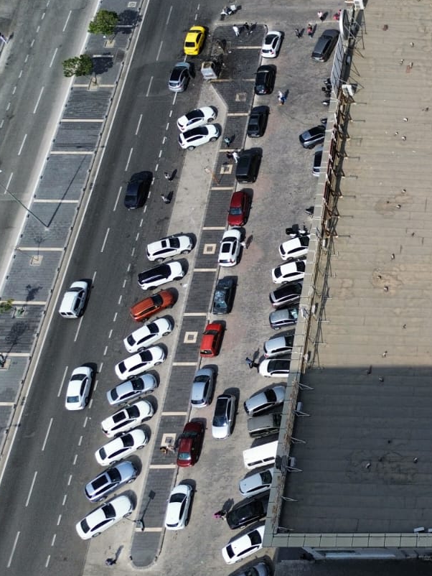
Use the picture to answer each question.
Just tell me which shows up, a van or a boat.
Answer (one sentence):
This aerial view contains a van.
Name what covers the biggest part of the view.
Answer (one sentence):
What you mostly see from above here is paved ground.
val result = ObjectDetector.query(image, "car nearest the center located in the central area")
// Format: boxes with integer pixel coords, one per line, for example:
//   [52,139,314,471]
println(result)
[210,276,240,314]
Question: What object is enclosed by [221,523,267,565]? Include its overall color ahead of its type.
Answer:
white car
